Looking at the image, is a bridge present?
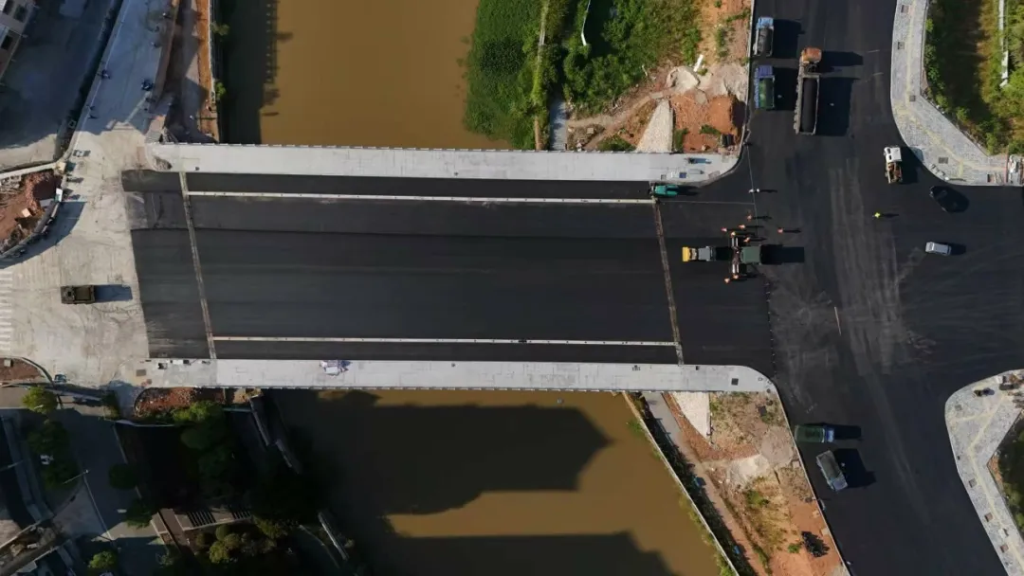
Yes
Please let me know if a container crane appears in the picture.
No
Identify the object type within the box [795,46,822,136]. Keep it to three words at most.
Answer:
truck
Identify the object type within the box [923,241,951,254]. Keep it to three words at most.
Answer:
vehicle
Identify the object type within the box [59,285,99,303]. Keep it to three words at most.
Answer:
vehicle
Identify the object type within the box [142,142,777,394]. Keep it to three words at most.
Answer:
bridge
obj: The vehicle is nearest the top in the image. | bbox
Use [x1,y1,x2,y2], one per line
[754,16,773,56]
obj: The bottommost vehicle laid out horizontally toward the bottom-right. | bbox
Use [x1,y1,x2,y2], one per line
[791,424,837,443]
